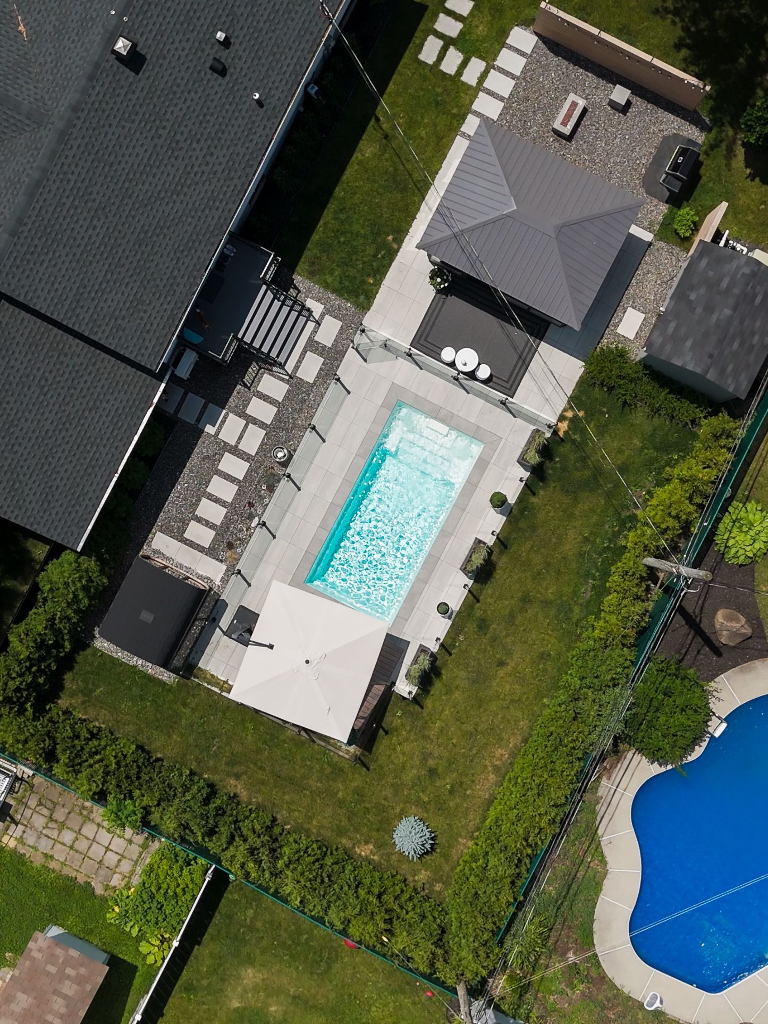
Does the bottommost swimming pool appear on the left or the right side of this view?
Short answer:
right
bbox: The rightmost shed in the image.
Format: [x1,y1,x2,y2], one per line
[636,240,768,403]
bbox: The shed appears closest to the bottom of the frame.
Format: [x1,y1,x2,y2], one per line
[4,915,119,1024]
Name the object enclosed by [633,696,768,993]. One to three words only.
swimming pool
